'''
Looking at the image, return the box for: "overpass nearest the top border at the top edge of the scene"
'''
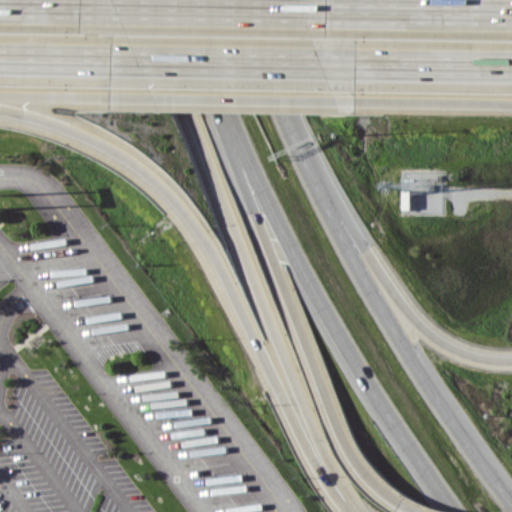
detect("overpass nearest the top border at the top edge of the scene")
[112,0,341,116]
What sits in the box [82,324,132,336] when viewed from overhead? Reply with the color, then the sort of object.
white vehicle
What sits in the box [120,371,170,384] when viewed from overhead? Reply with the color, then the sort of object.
white vehicle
